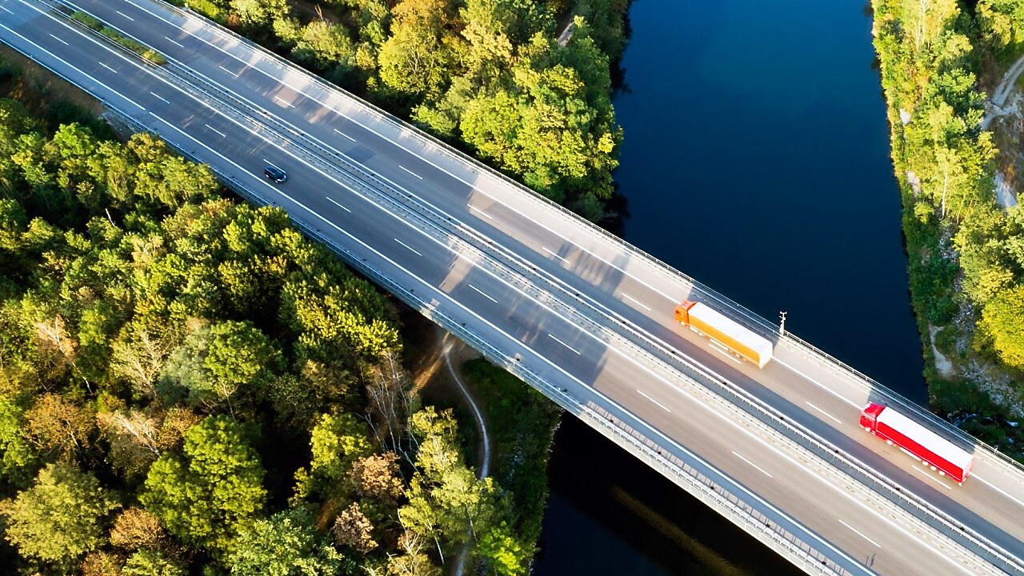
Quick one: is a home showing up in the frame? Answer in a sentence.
No, no home is visible in the scene.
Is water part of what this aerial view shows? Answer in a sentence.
Yes, there's water in this view.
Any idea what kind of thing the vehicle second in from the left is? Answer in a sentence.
I'd identify the vehicle second in from the left as a truck.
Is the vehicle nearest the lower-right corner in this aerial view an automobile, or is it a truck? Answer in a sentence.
It turns out the vehicle nearest the lower-right corner is a truck.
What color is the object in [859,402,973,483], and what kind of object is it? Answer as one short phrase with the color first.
white truck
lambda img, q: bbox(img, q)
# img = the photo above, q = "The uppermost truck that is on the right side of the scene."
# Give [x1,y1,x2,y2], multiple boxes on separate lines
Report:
[675,300,771,367]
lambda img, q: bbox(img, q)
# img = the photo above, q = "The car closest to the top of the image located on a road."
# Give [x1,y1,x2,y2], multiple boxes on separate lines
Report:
[264,165,287,183]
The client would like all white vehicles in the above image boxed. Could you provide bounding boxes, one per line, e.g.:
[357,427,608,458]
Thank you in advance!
[675,300,771,367]
[859,402,973,483]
